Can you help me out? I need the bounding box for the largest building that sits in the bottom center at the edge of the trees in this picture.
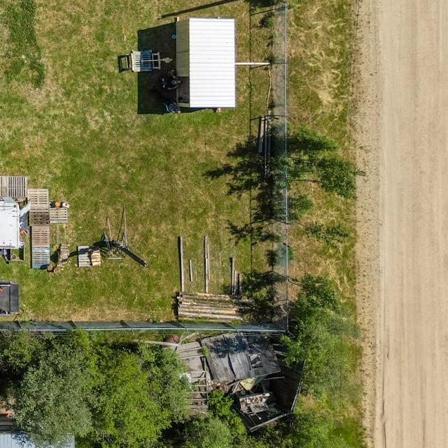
[201,332,303,433]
